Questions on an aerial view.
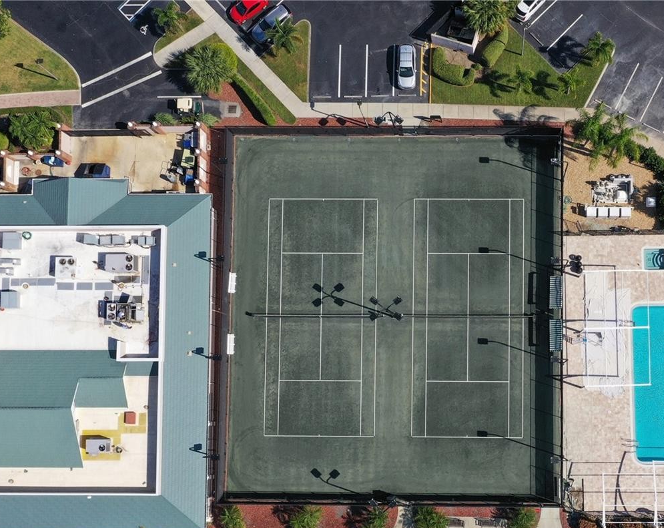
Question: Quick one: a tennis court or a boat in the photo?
tennis court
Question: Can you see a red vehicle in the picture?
Yes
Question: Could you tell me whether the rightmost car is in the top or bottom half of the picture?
top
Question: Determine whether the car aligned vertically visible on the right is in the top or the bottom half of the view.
top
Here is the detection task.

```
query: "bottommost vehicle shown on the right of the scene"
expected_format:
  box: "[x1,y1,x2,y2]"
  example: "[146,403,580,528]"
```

[395,46,417,94]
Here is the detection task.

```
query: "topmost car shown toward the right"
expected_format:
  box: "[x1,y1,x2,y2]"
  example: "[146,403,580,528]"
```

[514,0,555,26]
